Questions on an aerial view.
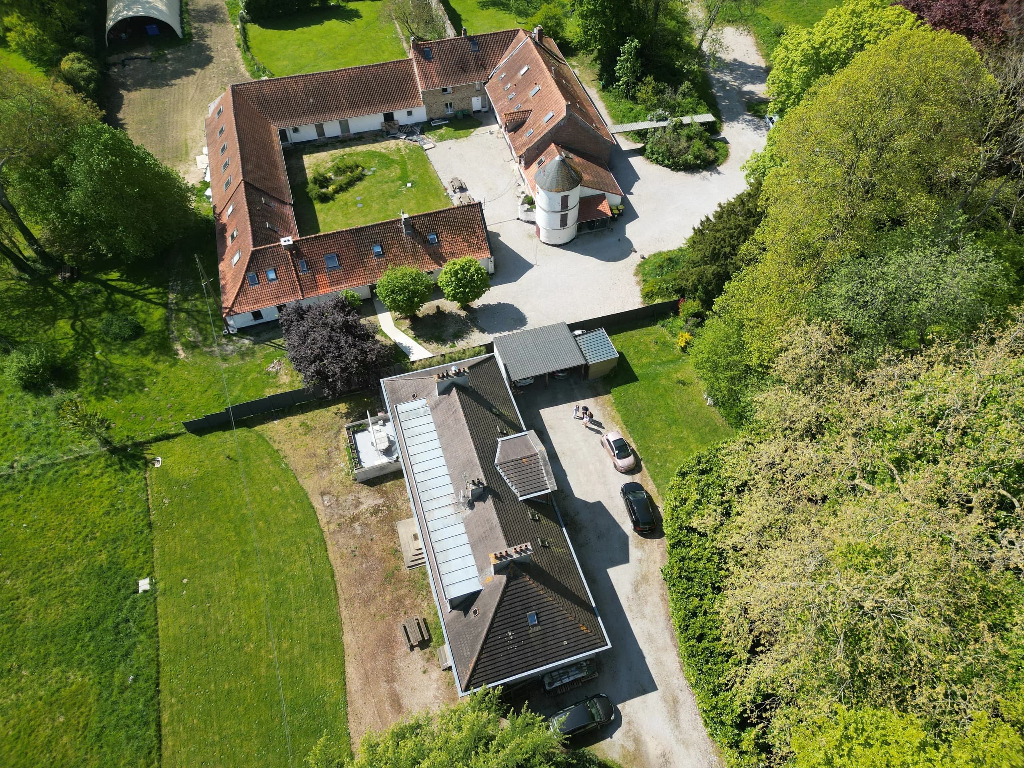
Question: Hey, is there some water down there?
No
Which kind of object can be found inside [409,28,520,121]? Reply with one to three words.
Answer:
house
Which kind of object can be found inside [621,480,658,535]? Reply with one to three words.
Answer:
car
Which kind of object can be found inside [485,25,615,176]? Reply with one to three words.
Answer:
barn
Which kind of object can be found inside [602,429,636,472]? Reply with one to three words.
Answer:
car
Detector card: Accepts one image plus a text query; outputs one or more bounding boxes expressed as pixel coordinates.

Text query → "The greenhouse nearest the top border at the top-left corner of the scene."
[103,0,182,46]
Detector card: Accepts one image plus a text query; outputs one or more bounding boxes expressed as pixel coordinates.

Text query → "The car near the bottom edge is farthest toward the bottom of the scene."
[549,694,617,742]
